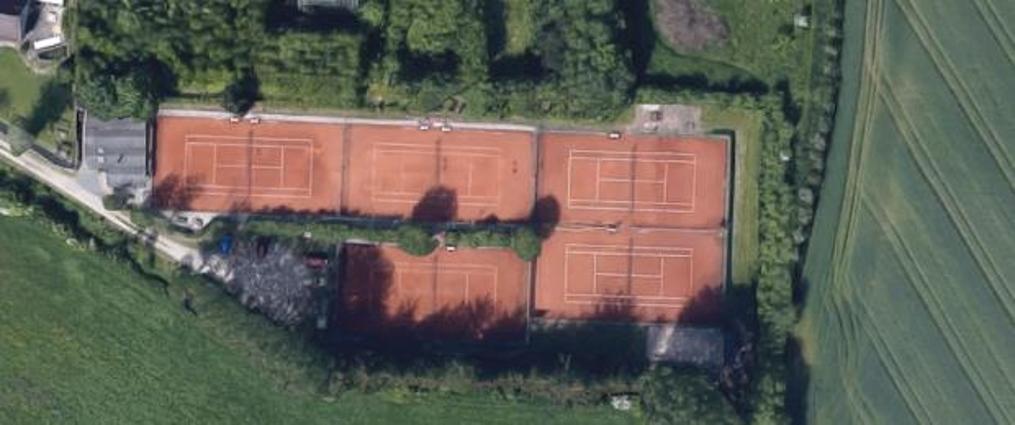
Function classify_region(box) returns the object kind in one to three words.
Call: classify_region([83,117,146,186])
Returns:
building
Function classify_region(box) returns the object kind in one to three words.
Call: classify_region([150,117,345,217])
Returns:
tennis court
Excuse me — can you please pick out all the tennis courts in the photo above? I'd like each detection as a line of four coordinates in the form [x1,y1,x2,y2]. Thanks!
[150,117,345,217]
[533,226,725,325]
[536,131,728,231]
[342,124,538,223]
[339,243,531,345]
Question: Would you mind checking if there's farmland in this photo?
Yes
